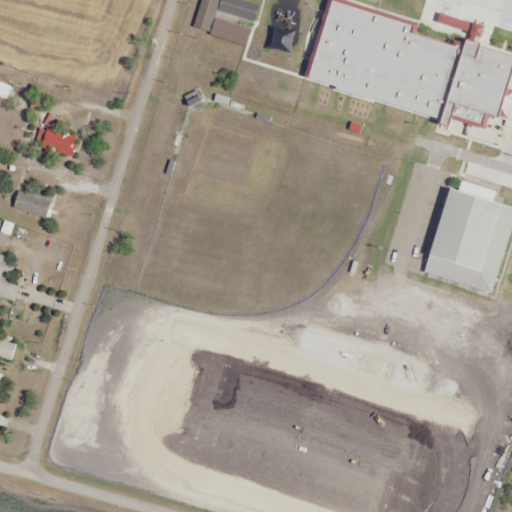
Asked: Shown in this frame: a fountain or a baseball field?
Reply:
baseball field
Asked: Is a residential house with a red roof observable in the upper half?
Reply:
Yes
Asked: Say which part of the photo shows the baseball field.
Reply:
center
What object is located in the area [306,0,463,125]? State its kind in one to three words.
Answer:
building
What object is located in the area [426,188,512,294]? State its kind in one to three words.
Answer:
building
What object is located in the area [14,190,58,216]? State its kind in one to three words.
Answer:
house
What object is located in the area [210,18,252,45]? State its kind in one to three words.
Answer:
shed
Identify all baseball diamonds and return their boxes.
[138,104,388,316]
